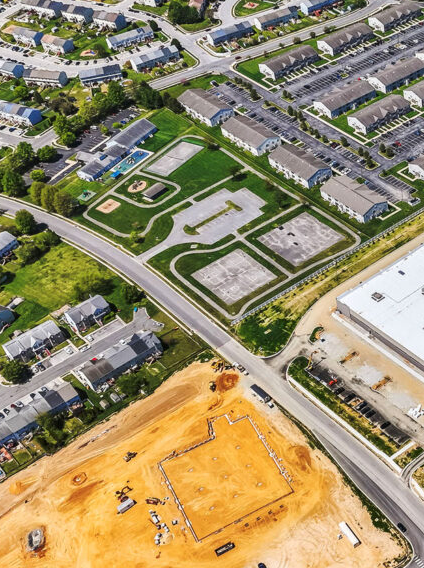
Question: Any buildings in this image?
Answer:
Yes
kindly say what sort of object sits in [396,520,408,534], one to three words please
vehicle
